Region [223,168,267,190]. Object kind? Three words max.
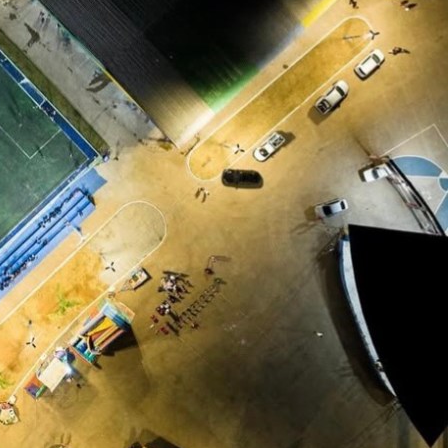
car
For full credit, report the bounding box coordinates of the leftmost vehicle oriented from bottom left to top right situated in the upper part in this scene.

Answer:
[252,129,292,164]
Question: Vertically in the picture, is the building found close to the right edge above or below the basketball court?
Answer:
below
